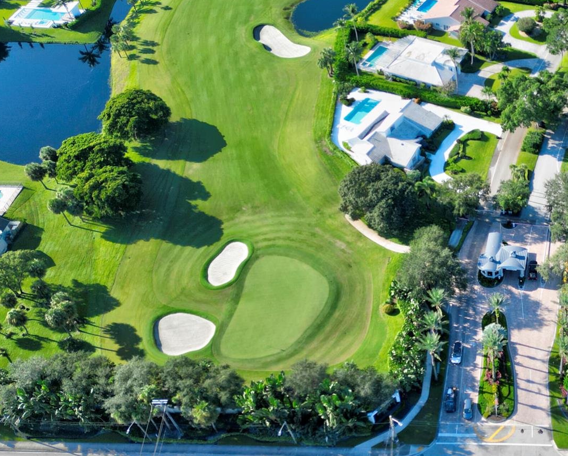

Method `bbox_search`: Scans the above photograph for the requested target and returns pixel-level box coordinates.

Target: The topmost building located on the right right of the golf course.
[424,0,500,40]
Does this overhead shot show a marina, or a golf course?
golf course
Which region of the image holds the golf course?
center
